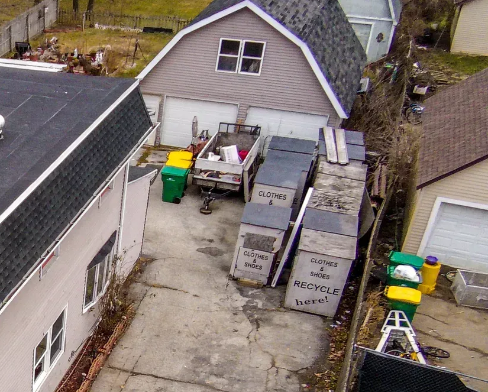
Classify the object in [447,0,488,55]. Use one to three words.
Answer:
shed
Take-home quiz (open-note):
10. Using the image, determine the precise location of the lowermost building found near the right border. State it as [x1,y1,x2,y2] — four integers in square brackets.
[408,80,488,265]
